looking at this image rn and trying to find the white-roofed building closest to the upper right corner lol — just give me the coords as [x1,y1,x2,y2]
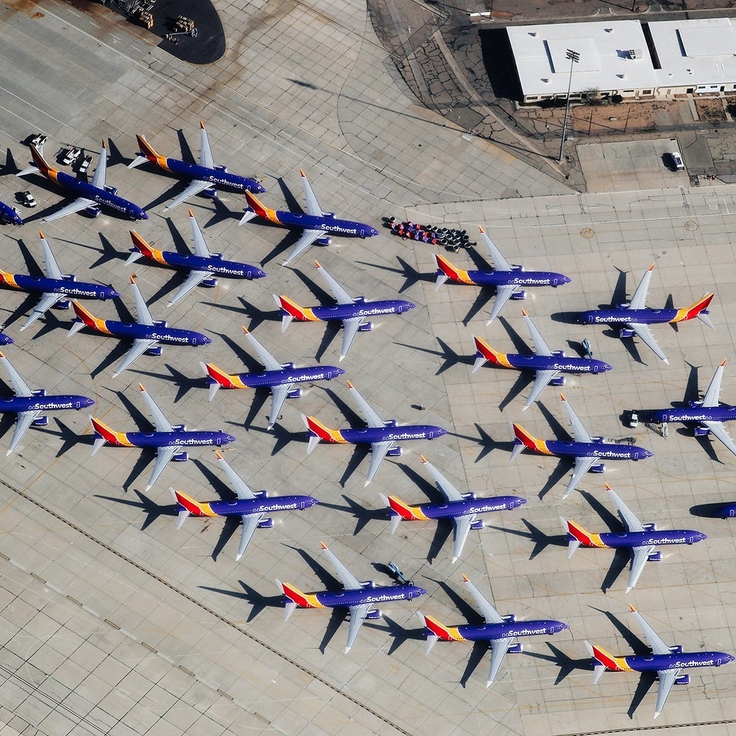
[640,17,736,98]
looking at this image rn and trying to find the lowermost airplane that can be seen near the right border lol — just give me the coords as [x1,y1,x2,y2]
[583,604,735,719]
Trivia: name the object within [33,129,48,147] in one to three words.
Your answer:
vehicle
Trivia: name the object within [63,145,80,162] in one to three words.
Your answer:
vehicle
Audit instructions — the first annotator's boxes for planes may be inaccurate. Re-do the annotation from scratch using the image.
[558,483,707,593]
[573,264,717,365]
[126,120,265,212]
[300,381,446,487]
[640,361,736,465]
[416,574,568,689]
[199,327,344,431]
[15,139,148,224]
[65,275,211,377]
[238,170,379,266]
[88,384,234,491]
[275,542,426,655]
[272,261,415,362]
[0,350,95,456]
[123,210,265,308]
[470,308,611,410]
[509,393,653,500]
[583,604,735,719]
[169,452,318,561]
[0,203,22,224]
[0,231,119,331]
[0,332,13,345]
[431,226,571,326]
[379,456,527,564]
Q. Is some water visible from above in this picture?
No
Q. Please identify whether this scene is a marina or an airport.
airport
